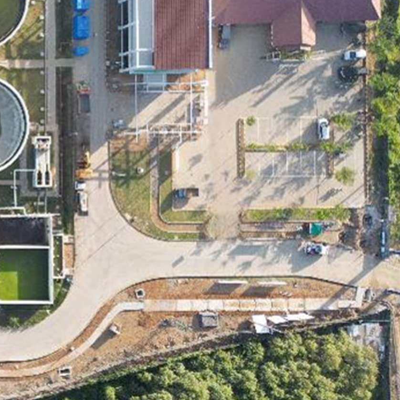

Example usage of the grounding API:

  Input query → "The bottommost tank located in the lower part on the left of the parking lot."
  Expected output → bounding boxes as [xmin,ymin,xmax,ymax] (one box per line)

[0,214,64,304]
